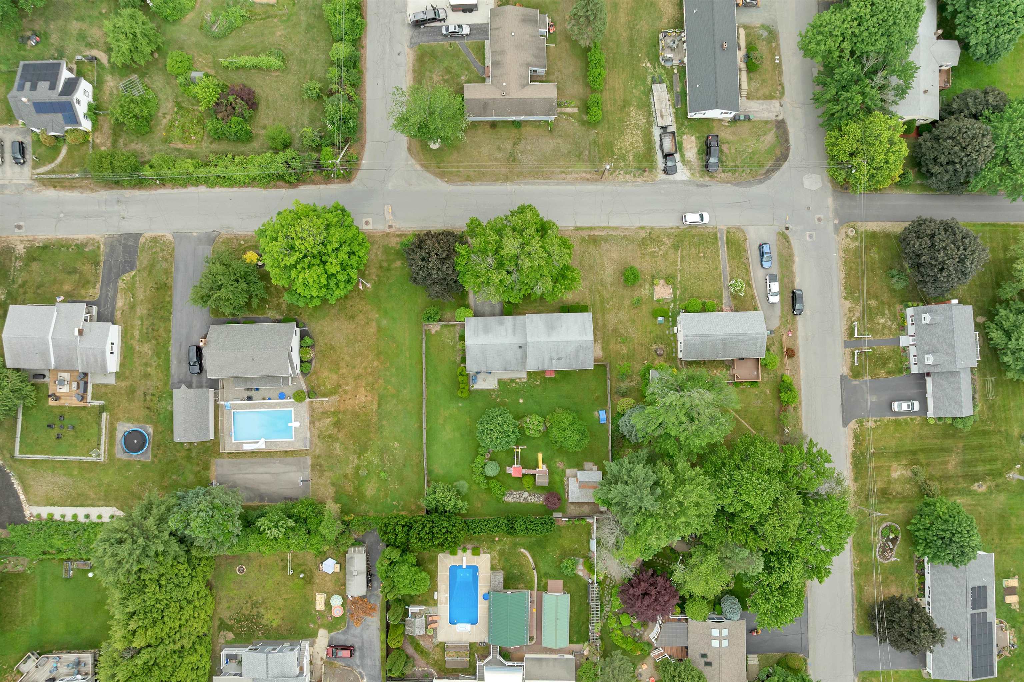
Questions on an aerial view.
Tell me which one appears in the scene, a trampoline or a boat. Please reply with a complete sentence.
Visible in the photo is a trampoline.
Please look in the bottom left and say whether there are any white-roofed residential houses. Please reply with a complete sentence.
Yes, a white-roofed residential house can be seen in the bottom left.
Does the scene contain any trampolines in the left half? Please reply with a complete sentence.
Yes, there is a trampoline in the left half.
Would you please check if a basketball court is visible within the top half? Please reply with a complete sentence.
No, there is no basketball court within the top half.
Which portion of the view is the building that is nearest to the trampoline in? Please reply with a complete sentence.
The building that is nearest to the trampoline sits in the left section of the image.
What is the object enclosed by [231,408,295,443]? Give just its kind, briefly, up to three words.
swimming pool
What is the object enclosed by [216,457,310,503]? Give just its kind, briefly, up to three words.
basketball court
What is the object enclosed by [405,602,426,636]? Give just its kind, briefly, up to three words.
shed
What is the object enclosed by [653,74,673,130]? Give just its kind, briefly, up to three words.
trailer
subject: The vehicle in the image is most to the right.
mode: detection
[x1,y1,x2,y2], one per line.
[890,400,919,413]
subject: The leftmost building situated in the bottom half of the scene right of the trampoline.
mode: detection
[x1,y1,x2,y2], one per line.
[173,384,216,443]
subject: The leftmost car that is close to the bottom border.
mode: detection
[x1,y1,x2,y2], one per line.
[326,645,354,659]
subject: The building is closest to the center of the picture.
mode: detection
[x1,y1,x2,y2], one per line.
[465,312,594,377]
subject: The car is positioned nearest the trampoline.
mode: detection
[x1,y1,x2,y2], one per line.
[188,346,203,374]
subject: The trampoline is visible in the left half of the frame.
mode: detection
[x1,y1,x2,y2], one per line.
[117,429,150,456]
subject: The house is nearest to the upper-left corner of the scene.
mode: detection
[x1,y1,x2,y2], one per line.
[0,60,95,138]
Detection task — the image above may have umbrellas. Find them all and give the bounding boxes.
[322,559,337,574]
[330,594,343,607]
[332,605,344,618]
